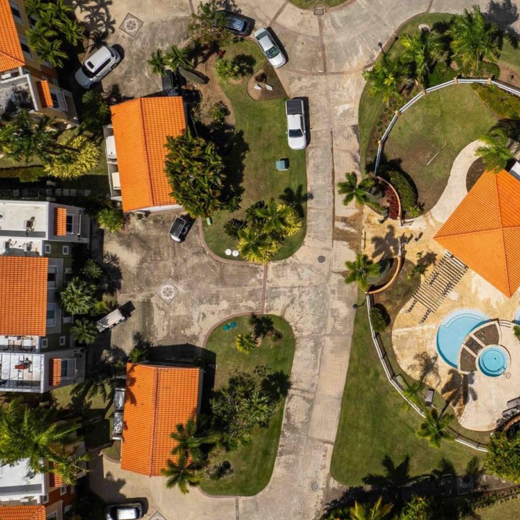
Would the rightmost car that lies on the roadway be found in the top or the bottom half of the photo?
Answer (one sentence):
You can find the rightmost car that lies on the roadway in the top half.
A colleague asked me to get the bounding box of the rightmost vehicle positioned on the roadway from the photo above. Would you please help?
[254,28,287,70]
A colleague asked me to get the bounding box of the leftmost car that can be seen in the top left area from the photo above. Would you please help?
[78,47,121,88]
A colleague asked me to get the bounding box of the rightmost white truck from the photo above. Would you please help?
[286,99,308,150]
